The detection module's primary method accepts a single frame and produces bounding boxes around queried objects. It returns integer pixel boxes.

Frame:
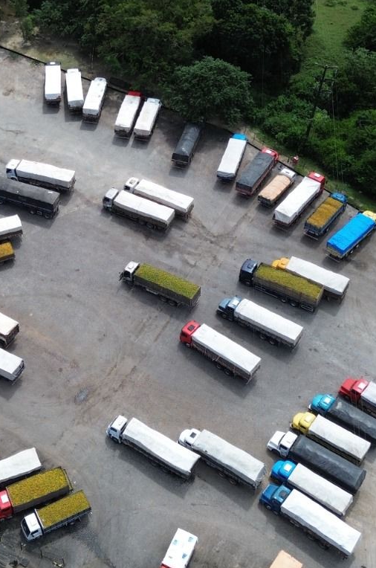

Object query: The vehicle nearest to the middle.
[117,260,198,311]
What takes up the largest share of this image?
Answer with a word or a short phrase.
paved ground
